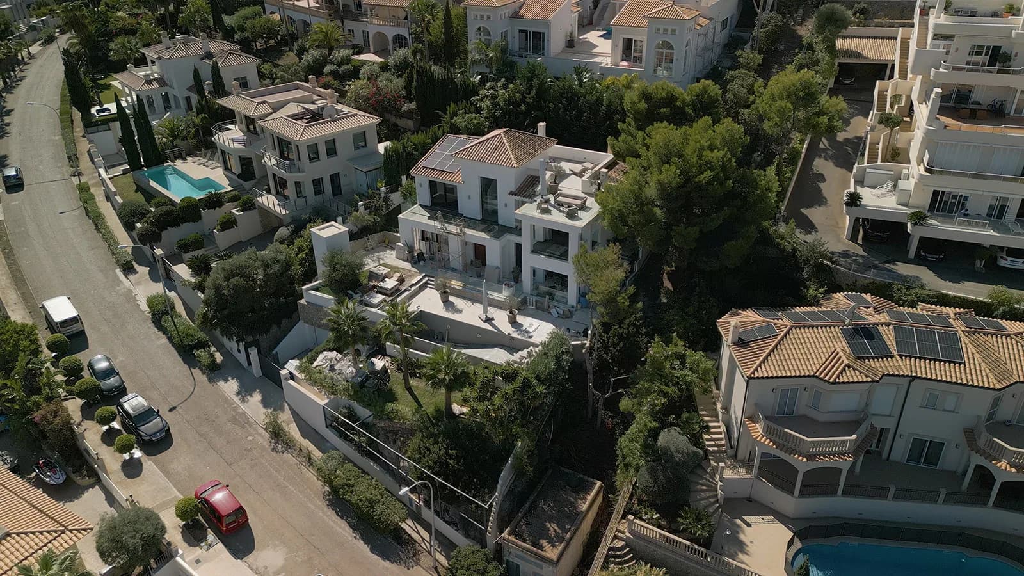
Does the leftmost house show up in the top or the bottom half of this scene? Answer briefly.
bottom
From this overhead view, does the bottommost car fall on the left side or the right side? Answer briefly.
left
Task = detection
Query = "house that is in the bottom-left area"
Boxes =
[0,465,96,576]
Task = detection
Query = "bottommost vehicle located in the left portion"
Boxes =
[194,479,249,534]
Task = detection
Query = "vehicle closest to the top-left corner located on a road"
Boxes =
[0,162,23,183]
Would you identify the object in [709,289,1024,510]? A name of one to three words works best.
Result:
house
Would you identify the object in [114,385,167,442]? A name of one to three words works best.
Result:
car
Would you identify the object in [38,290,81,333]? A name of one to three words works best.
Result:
van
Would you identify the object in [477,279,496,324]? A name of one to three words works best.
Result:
umbrella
